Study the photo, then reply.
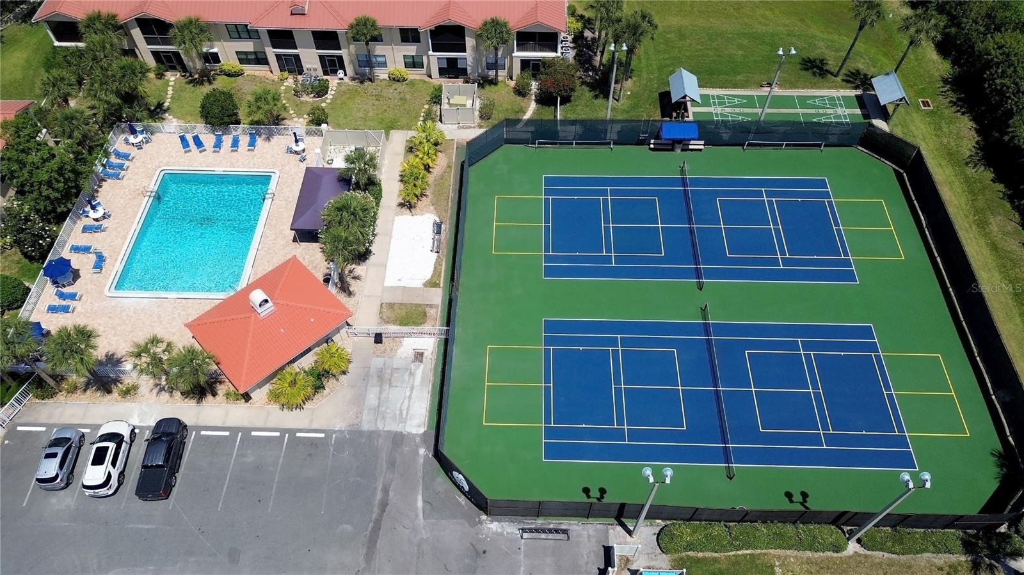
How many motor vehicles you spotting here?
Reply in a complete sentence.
The picture shows 3 motor vehicles.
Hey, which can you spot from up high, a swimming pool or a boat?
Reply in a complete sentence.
There is a swimming pool in the scene.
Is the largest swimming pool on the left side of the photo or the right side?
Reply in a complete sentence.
The largest swimming pool sits on the left side.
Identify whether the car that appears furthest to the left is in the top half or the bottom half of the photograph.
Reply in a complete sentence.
The car that appears furthest to the left sits in the bottom half of the picture.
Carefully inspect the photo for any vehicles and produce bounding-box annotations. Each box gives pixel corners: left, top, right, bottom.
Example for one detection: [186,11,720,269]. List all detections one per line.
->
[31,426,85,493]
[130,414,188,497]
[79,421,136,497]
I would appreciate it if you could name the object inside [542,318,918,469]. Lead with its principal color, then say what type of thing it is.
blue tennis court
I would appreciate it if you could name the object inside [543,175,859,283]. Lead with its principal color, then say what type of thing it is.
blue tennis court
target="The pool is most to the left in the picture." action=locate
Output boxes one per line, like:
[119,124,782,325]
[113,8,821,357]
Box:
[104,168,278,298]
